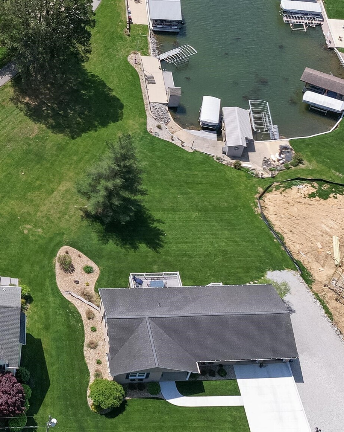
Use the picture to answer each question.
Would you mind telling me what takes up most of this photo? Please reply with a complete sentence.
What you mostly see from above here is grass.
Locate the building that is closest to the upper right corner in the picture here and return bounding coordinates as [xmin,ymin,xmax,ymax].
[297,68,344,102]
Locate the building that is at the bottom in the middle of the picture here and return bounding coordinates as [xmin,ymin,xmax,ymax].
[97,284,298,388]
